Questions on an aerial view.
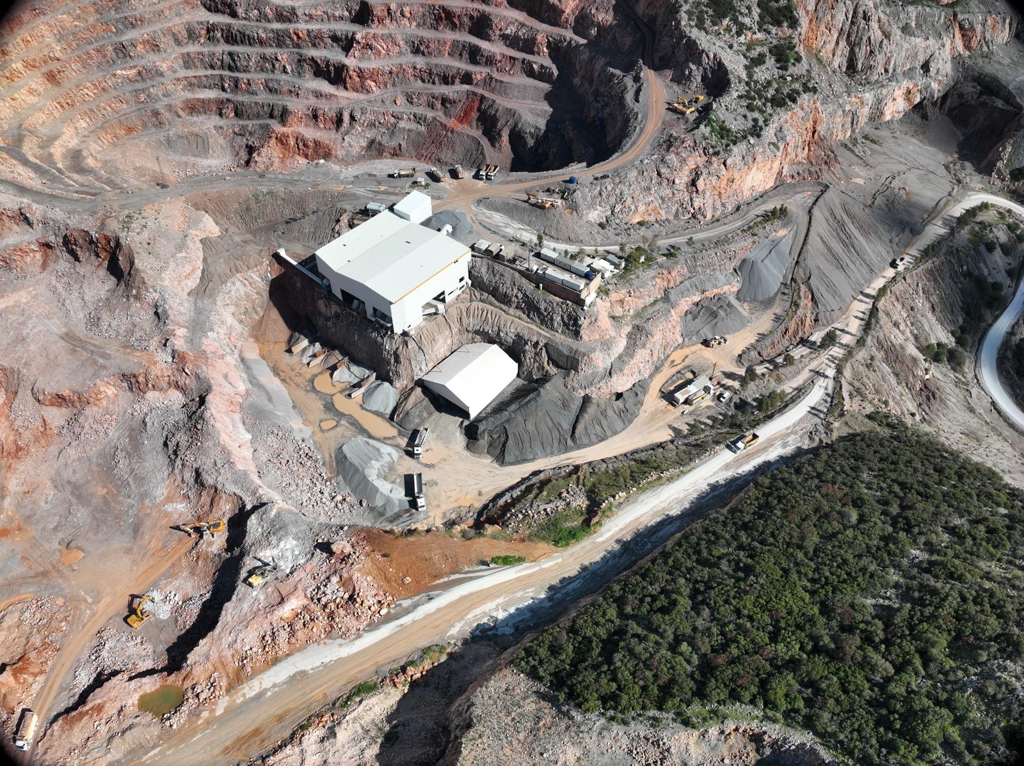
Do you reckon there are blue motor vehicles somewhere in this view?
No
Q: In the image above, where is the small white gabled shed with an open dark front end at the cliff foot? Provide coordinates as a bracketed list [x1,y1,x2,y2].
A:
[422,334,518,421]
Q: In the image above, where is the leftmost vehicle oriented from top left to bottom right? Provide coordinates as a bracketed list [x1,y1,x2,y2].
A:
[430,166,448,182]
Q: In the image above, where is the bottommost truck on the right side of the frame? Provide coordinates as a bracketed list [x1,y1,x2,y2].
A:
[731,432,763,454]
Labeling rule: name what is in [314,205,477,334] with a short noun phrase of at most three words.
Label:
building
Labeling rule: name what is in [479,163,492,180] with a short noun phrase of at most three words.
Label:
vehicle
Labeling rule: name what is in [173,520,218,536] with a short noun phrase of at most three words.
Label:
work vehicle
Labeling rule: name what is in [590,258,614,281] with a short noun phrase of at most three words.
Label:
shed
